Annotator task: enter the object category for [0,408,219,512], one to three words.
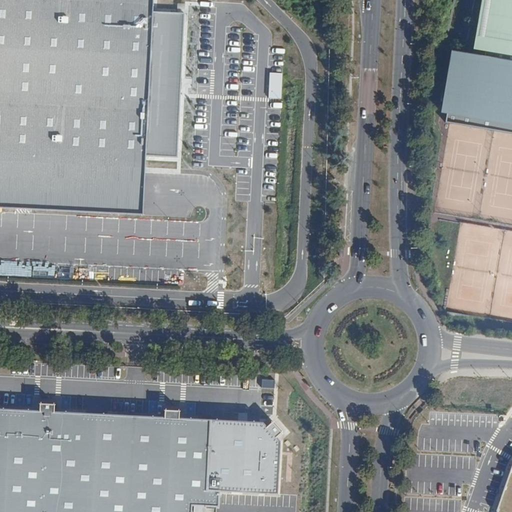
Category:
building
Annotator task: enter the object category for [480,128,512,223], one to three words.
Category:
tennis court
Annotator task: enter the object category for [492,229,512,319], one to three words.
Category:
tennis court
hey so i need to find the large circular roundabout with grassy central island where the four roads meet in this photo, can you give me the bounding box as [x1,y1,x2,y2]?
[303,276,443,414]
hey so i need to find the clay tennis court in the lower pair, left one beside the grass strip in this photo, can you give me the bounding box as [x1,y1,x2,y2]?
[446,222,504,315]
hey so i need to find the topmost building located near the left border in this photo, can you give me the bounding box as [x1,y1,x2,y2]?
[0,0,154,214]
